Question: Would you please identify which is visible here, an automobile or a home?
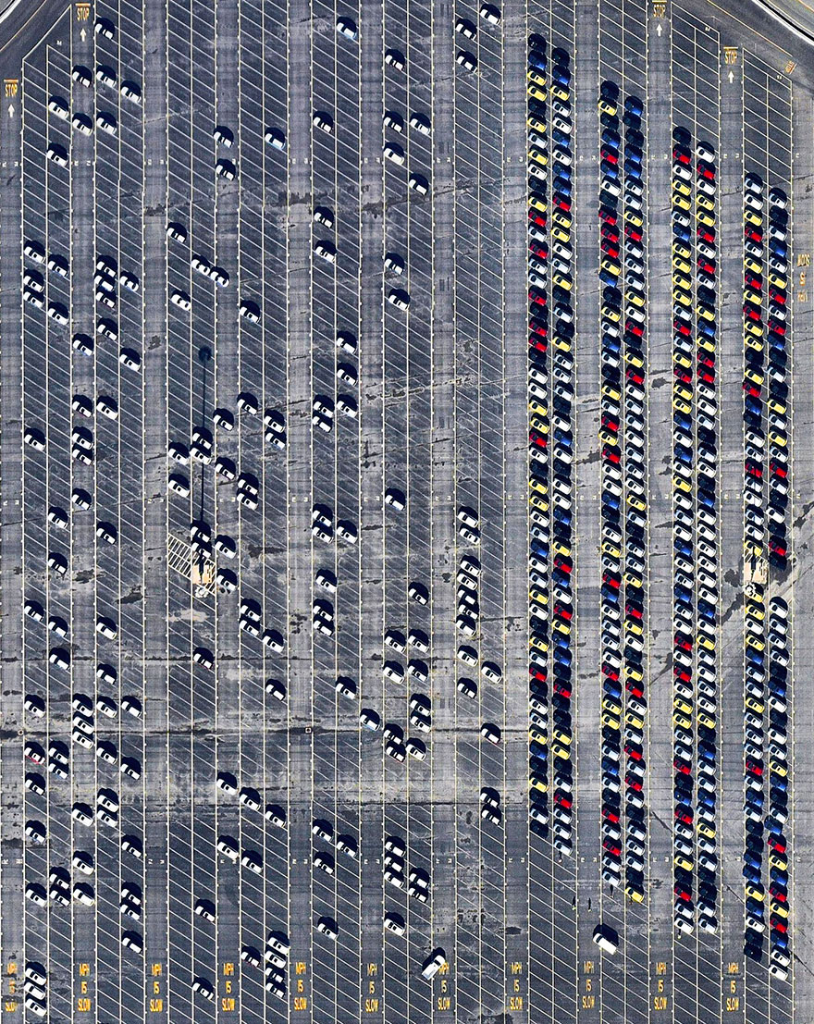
automobile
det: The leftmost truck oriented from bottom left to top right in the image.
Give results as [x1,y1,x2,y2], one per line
[422,954,445,979]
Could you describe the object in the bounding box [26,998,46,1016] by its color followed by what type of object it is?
white car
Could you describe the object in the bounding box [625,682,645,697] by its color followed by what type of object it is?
red car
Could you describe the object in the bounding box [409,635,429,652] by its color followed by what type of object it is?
white car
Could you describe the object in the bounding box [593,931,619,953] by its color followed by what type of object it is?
white vehicle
